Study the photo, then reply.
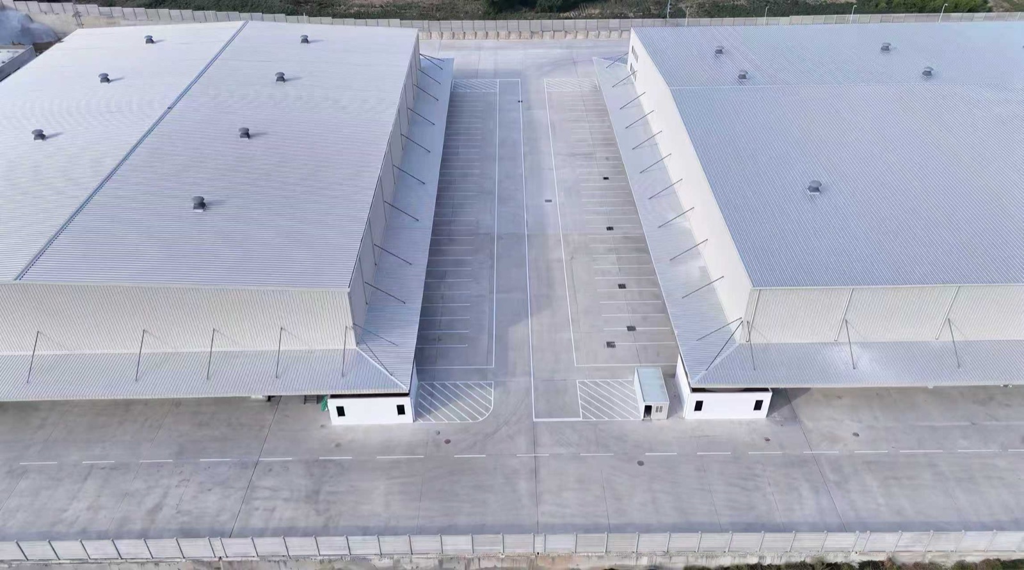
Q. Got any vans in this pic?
No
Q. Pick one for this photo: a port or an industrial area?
industrial area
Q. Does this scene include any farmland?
No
